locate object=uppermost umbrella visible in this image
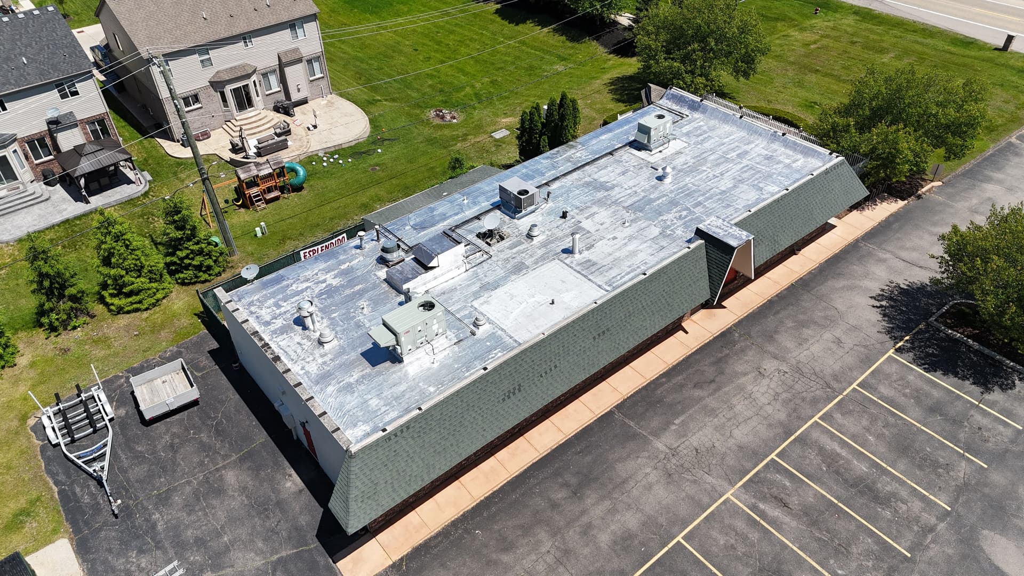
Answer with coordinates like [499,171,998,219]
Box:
[239,128,256,160]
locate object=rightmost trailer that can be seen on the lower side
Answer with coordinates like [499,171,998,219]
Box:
[122,357,203,425]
